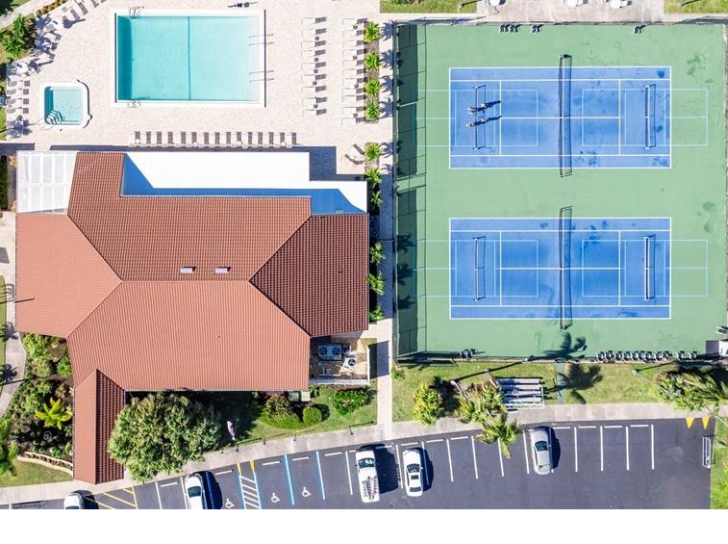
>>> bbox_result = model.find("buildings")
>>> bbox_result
[711,341,728,361]
[15,151,369,484]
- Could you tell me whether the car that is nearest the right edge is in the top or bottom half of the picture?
bottom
